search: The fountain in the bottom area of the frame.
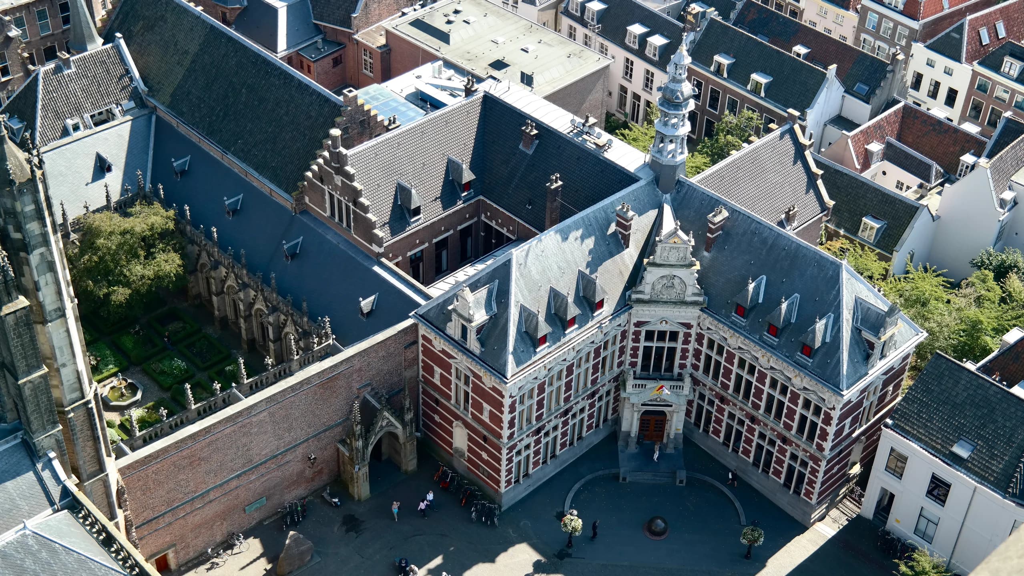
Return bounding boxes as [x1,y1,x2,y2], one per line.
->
[104,374,146,413]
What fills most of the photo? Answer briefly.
buildings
